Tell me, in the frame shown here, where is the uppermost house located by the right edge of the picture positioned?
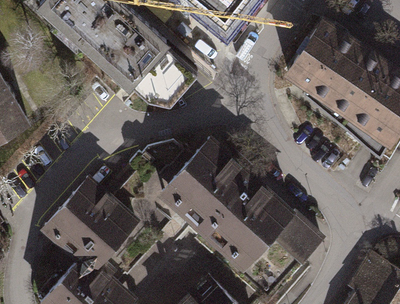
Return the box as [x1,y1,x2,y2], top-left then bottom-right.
[284,17,400,150]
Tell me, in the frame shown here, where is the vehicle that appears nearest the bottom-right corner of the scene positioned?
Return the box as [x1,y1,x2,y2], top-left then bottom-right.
[360,162,378,188]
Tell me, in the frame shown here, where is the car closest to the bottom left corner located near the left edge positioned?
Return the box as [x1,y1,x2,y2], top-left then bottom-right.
[9,176,28,198]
